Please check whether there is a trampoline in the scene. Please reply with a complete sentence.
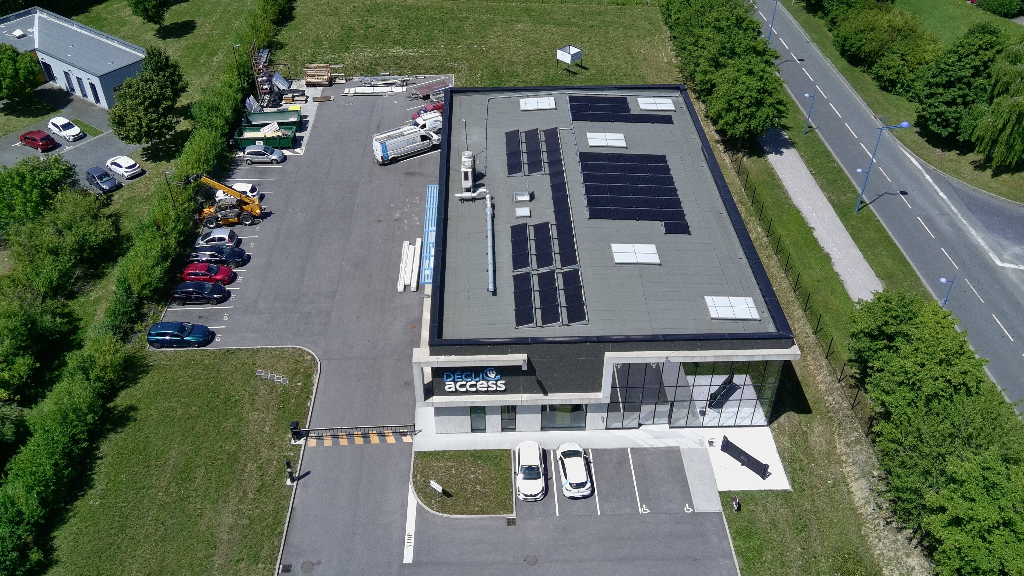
No, there appears to be no trampoline in this shot.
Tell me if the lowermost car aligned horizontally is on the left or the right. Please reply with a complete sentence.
The lowermost car aligned horizontally appears in the left half of the scene.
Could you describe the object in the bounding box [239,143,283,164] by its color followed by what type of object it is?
gray car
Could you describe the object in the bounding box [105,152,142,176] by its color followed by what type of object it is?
white car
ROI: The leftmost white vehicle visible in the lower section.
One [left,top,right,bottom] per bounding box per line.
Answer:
[514,441,547,501]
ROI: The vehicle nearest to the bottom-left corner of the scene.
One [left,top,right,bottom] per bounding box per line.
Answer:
[149,319,214,348]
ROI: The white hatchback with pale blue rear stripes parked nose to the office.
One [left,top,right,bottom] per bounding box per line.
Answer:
[557,443,592,499]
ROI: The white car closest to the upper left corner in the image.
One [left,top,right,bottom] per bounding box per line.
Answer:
[48,114,85,139]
